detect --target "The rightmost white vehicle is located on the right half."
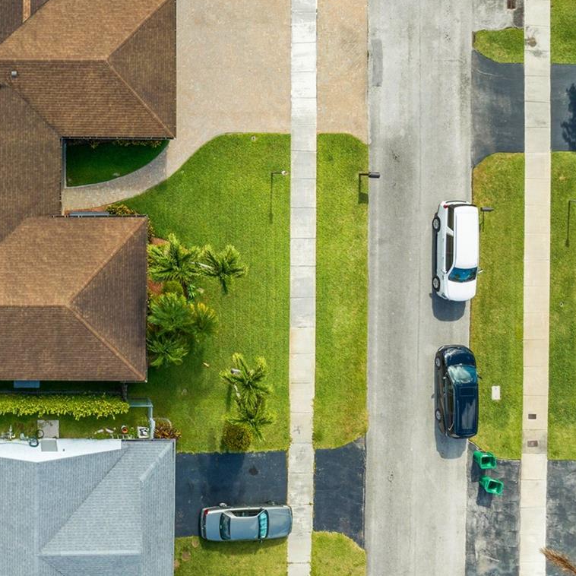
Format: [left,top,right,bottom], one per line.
[435,202,488,300]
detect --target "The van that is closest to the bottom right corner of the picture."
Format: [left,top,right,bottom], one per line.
[435,348,487,448]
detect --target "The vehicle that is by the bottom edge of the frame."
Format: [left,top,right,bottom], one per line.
[197,501,291,549]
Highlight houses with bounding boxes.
[0,437,177,576]
[0,0,178,390]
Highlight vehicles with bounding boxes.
[435,348,487,448]
[197,501,291,549]
[435,202,488,300]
